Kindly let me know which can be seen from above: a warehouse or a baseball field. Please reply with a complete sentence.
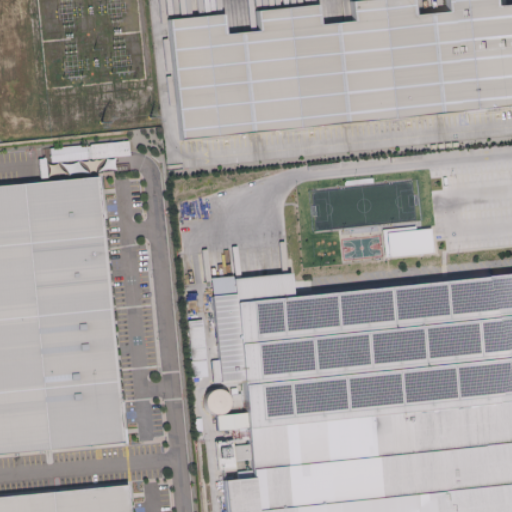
There is a warehouse in the scene.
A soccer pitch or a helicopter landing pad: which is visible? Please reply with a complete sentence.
Visible in the photo is a soccer pitch.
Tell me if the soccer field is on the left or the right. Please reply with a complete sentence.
The soccer field sits on the right side.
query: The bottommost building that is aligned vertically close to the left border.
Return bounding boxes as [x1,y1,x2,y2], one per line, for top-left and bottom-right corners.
[0,176,126,454]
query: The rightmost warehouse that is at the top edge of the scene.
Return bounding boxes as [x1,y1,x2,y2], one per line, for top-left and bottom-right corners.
[169,0,512,138]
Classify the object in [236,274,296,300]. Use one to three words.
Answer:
building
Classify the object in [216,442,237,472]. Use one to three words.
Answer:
building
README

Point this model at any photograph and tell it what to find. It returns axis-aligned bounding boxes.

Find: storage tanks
[202,387,233,416]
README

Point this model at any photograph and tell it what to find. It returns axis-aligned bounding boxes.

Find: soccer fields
[314,180,420,230]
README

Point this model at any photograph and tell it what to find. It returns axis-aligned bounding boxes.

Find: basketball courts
[342,236,382,260]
